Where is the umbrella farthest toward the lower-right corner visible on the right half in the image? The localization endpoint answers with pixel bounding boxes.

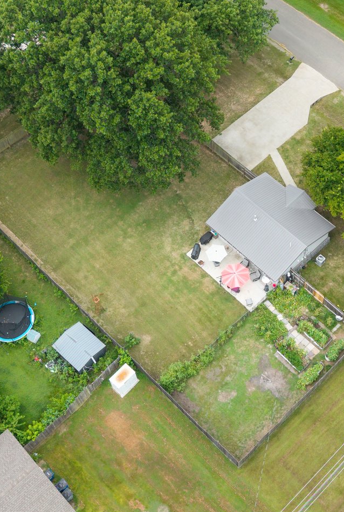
[216,261,250,292]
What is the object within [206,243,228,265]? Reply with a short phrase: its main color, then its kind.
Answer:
white umbrella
